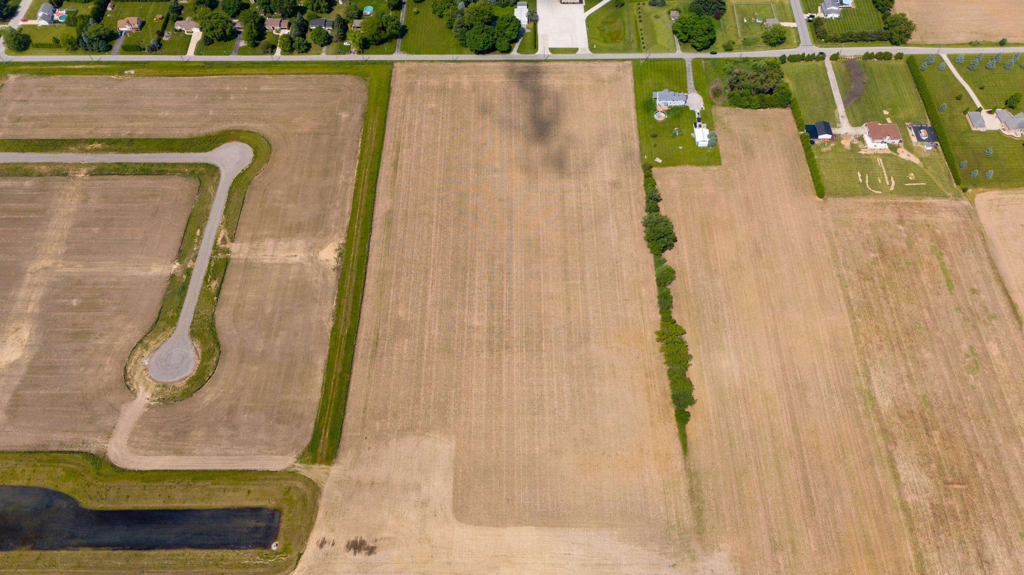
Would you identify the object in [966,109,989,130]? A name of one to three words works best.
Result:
building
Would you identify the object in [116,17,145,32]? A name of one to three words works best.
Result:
house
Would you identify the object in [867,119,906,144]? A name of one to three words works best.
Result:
house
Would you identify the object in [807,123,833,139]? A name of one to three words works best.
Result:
building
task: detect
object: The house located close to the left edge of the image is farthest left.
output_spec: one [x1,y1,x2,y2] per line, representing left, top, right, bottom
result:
[37,2,57,25]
